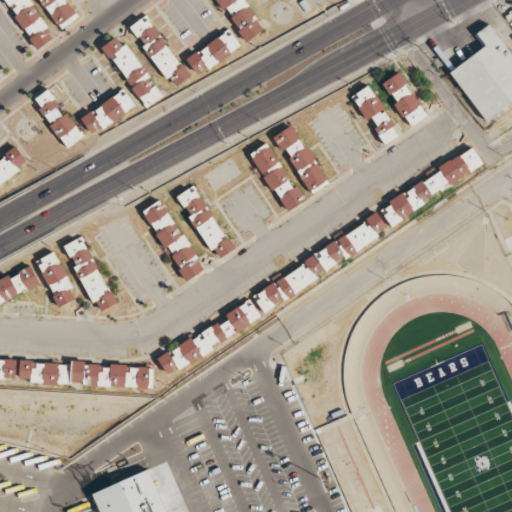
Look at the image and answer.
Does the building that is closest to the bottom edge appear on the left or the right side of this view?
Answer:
left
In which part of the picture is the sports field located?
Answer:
bottom right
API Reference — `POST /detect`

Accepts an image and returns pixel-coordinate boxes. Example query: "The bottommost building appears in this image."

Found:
[92,468,168,512]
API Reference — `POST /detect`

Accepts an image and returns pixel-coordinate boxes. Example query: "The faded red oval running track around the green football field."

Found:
[362,294,512,512]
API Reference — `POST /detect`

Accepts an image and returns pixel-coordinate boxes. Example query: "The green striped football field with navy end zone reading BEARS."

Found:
[380,312,512,512]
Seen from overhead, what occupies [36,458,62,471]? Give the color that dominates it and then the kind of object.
white vehicle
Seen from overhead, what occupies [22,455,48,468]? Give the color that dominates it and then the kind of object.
white vehicle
